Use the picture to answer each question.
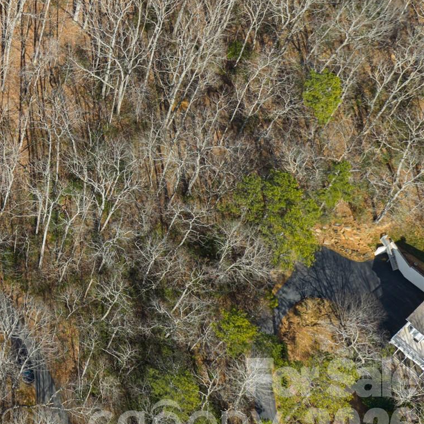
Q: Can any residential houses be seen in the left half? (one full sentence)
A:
No, I see no residential house in the left half.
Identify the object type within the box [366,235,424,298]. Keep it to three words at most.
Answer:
house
